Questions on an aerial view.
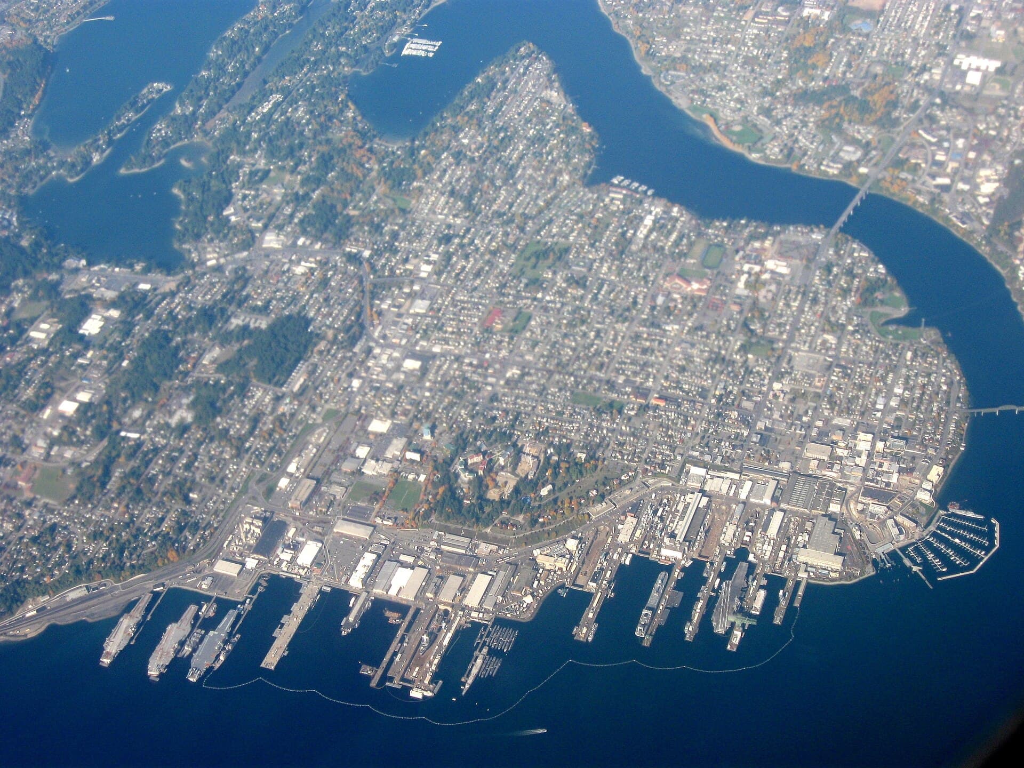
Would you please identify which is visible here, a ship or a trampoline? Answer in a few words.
ship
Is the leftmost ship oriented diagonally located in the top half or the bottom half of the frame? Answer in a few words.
bottom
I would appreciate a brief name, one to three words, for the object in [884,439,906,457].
building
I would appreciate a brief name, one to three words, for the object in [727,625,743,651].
ship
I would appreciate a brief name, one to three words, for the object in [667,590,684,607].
ship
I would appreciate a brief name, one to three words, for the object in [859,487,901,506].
building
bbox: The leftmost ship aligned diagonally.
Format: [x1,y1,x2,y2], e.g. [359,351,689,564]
[101,593,152,664]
